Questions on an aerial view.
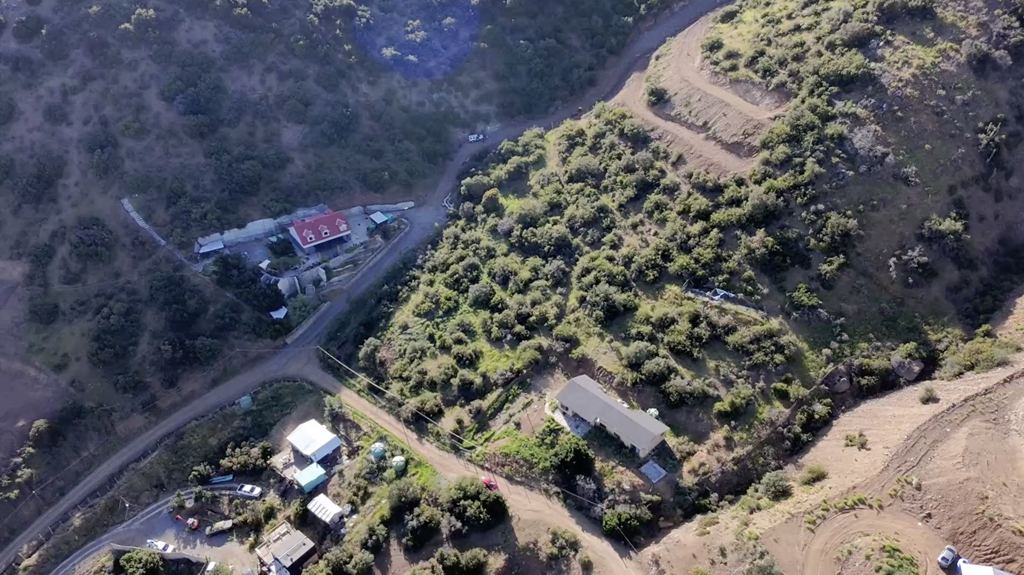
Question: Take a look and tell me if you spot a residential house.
Yes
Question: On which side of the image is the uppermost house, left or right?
left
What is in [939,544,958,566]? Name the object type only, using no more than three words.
car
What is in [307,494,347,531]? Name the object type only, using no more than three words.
shed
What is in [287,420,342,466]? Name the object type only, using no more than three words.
house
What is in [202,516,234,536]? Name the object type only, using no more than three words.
vehicle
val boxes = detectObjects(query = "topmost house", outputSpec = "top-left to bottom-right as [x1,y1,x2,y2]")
[284,206,353,256]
